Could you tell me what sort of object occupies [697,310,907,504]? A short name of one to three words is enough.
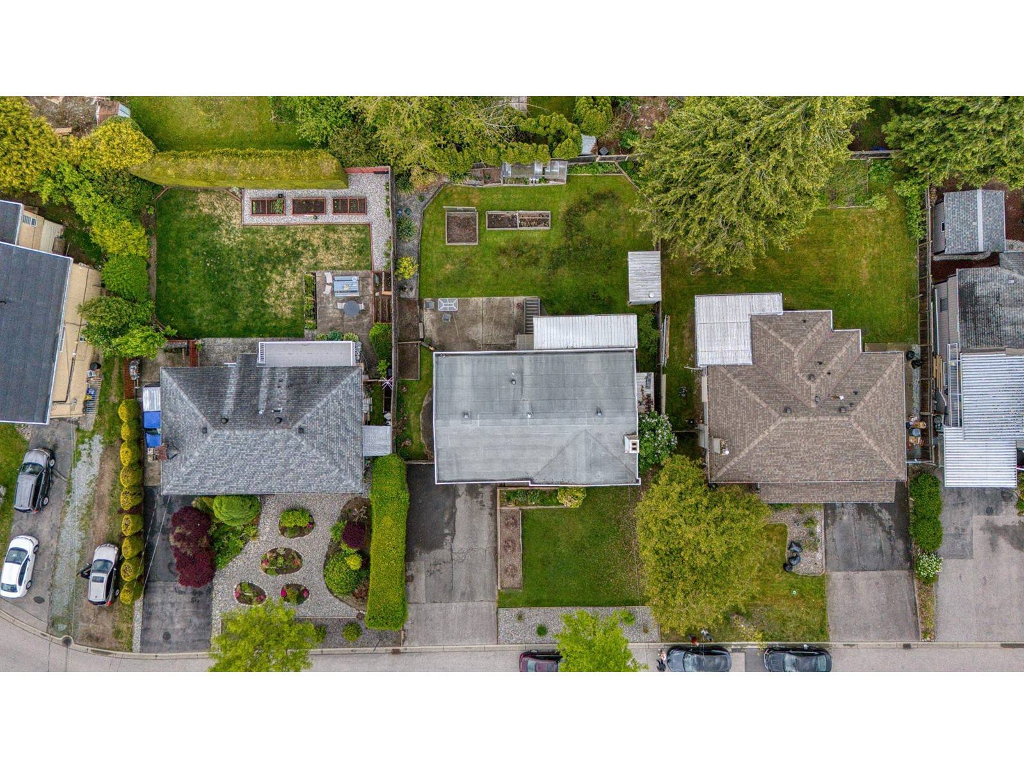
house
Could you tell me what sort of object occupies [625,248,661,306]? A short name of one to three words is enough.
shed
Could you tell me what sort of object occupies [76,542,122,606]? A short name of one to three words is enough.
car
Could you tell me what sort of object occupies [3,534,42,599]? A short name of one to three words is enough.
car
